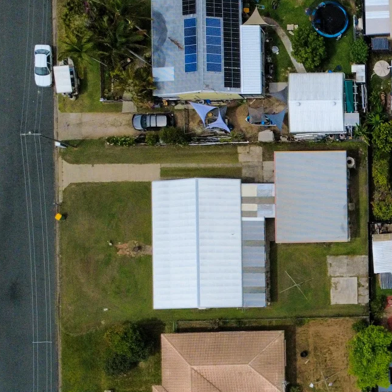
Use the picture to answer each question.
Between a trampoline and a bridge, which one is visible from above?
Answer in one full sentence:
Visible in the photo is a trampoline.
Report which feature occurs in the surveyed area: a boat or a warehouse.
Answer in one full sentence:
Looking from above, you can make out a boat.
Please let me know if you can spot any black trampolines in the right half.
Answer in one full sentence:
Yes, there is a black trampoline in the right half.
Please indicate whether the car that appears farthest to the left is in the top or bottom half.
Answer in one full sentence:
The top half of the photo is where the car that appears farthest to the left is.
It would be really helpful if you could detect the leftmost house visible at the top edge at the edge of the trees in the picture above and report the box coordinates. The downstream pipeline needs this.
[151,0,269,101]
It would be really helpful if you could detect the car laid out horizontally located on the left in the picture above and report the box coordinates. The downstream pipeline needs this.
[132,111,175,132]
